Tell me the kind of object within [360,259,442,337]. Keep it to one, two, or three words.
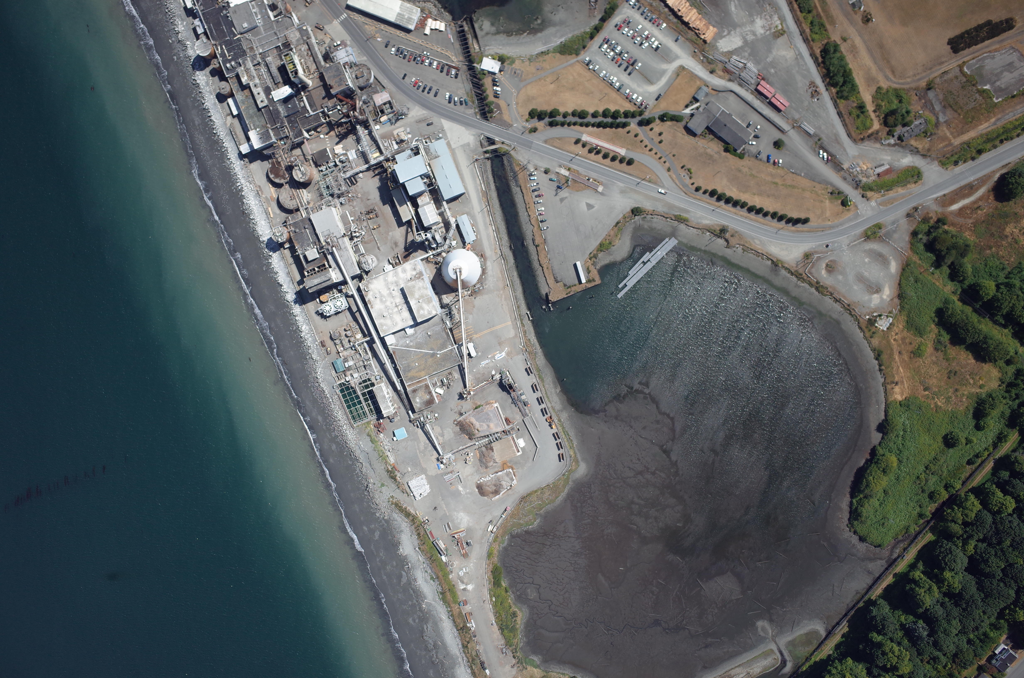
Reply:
building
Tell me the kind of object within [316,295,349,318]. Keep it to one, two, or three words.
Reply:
cooling tower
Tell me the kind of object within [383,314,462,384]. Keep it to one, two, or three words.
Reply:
building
